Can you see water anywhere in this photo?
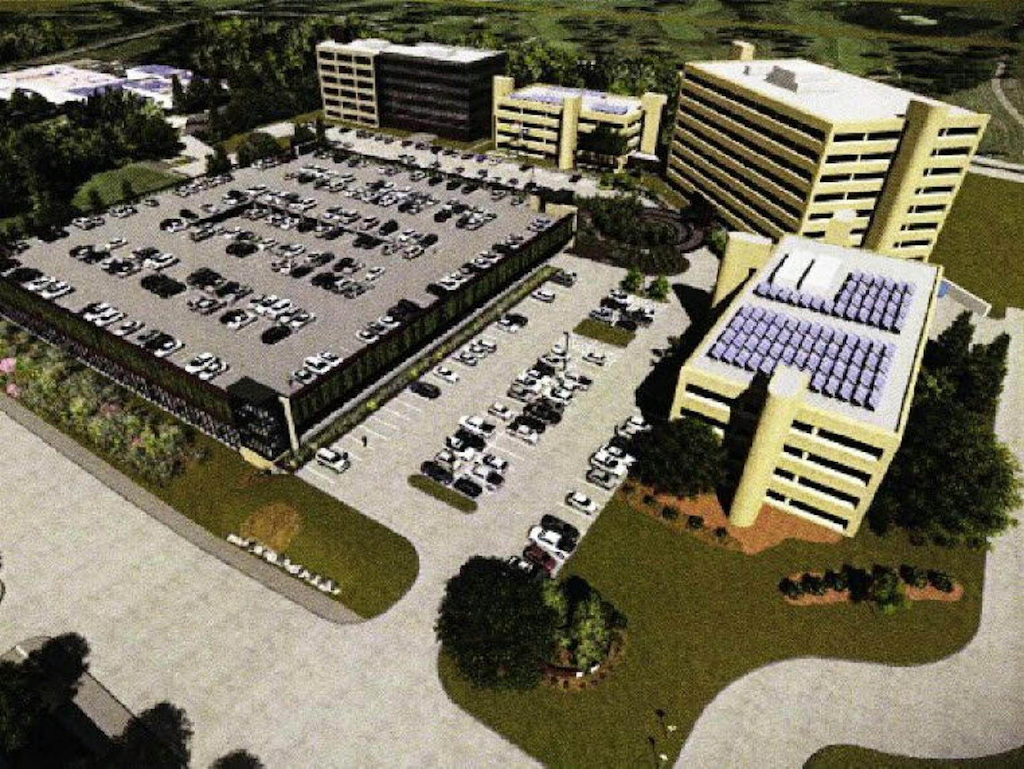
No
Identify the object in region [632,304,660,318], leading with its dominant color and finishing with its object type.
white car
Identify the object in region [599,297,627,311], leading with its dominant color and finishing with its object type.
black car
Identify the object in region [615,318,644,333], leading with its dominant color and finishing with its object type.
black car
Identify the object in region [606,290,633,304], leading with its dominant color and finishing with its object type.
white car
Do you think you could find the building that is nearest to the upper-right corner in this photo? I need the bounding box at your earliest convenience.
[666,39,988,258]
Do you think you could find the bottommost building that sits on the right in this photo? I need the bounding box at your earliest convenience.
[665,226,943,531]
